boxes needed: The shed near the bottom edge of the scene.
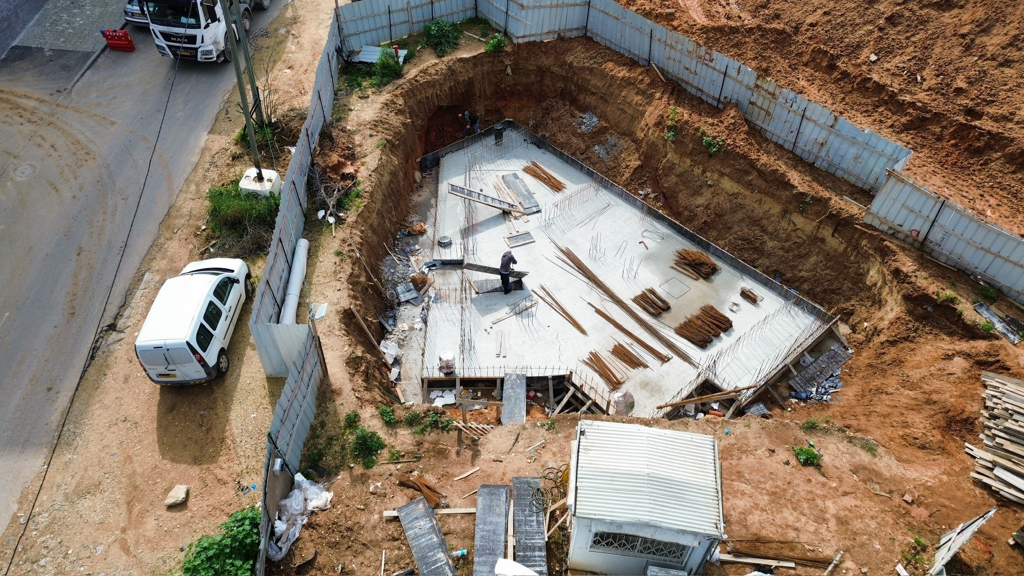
[569,404,733,576]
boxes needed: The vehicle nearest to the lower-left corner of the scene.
[132,253,252,392]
